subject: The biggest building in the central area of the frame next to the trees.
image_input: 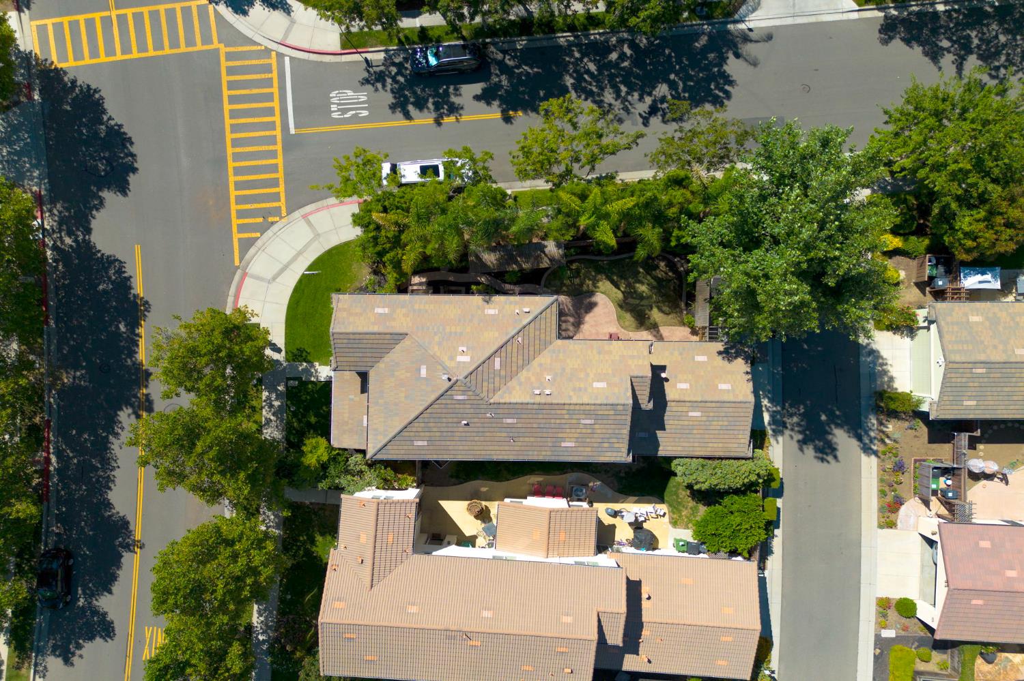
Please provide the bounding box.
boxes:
[327,290,758,464]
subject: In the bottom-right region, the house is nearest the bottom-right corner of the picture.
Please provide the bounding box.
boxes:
[916,516,1024,646]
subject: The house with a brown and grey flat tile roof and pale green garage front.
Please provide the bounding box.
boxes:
[911,300,1024,424]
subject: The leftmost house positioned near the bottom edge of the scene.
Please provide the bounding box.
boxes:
[319,486,764,681]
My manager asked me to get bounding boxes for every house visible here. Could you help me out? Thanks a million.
[916,516,1024,646]
[327,290,758,464]
[319,486,764,681]
[911,300,1024,424]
